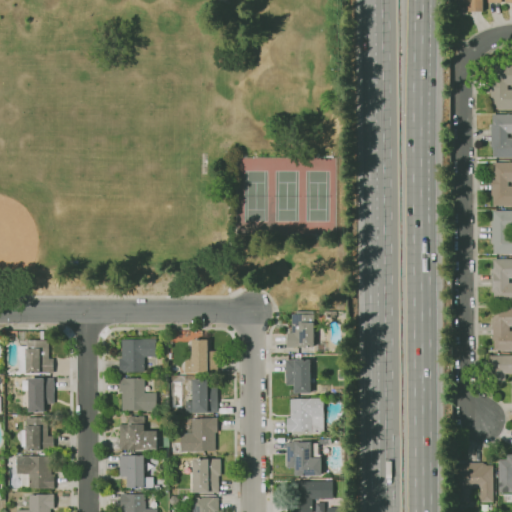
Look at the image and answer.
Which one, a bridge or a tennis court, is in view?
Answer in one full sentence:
Looking from above, you can make out a tennis court.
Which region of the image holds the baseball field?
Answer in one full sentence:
The baseball field is located in the left region of the scene.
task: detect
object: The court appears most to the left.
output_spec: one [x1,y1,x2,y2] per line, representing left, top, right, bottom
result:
[242,158,273,238]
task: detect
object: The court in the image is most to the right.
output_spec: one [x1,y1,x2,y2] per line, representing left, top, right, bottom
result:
[303,158,337,238]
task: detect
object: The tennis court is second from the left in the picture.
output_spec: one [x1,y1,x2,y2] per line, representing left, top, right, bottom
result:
[273,158,303,238]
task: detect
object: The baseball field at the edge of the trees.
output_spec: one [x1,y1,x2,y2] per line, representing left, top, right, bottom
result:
[0,194,40,273]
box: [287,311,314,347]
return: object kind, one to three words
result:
house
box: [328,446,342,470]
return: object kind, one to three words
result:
swimming pool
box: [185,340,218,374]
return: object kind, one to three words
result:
house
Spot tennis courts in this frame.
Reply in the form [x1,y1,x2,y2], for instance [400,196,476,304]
[303,158,337,238]
[242,158,273,238]
[273,158,303,238]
